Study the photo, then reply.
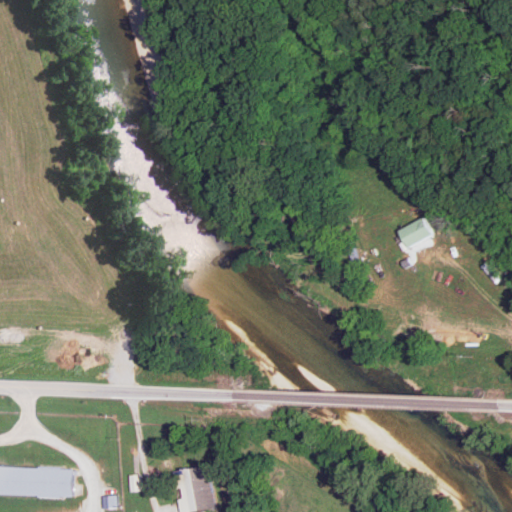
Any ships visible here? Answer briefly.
No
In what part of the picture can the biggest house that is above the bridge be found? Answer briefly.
right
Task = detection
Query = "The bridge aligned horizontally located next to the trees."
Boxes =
[232,388,498,413]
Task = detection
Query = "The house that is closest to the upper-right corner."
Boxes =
[396,218,435,256]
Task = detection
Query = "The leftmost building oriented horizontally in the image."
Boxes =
[0,464,75,498]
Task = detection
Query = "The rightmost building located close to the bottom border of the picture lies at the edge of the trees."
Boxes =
[180,472,215,512]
